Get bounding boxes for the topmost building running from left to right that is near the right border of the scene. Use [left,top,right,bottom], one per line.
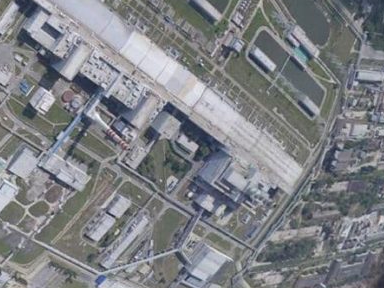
[351,70,384,82]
